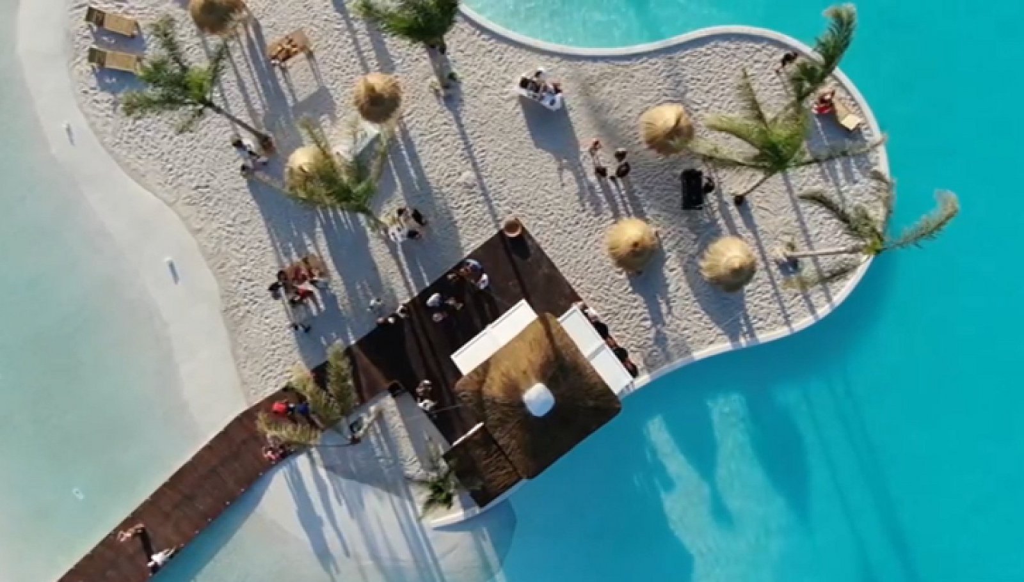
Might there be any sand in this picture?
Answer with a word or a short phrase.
Yes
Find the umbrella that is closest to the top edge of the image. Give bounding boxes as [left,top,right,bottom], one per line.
[192,0,251,44]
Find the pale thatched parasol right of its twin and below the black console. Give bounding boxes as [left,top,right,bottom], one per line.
[693,238,751,295]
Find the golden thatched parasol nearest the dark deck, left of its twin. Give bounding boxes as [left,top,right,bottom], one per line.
[604,220,656,274]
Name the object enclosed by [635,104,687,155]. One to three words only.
umbrella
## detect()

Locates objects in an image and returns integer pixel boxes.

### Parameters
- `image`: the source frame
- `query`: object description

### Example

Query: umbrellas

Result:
[287,145,334,195]
[192,0,251,44]
[604,220,656,274]
[635,104,687,155]
[353,74,404,125]
[693,238,751,295]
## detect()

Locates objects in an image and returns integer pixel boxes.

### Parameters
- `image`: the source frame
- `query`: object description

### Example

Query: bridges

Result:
[61,387,300,582]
